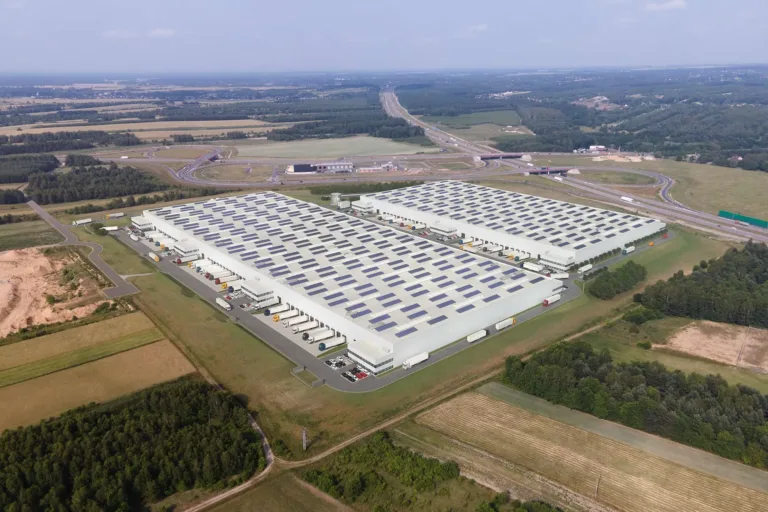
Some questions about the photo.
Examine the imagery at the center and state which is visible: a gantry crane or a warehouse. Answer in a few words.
warehouse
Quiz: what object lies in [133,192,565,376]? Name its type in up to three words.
warehouse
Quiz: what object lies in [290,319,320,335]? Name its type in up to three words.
vehicle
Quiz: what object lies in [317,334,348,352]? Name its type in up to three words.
vehicle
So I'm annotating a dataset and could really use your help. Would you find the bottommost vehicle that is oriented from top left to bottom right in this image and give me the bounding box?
[214,296,232,312]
